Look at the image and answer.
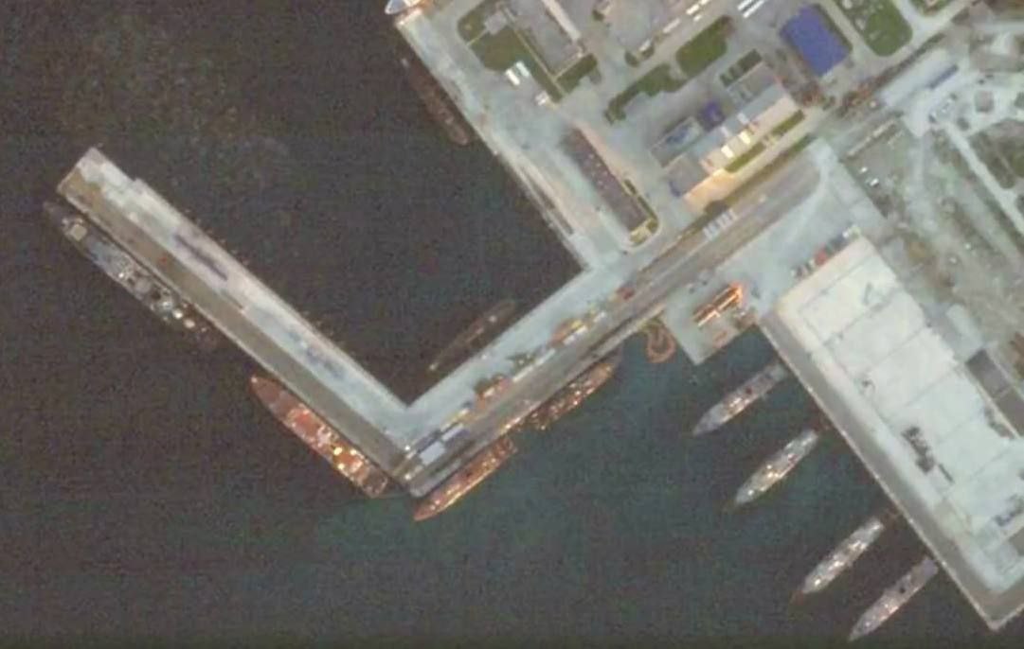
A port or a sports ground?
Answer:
port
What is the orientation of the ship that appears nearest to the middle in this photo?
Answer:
on a diagonal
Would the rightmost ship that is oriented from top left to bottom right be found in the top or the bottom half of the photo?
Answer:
top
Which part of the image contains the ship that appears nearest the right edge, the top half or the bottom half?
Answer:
bottom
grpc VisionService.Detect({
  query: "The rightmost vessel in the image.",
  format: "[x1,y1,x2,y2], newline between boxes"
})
[851,557,944,640]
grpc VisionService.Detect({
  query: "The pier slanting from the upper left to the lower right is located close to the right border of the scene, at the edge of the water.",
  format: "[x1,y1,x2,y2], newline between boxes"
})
[761,235,1024,628]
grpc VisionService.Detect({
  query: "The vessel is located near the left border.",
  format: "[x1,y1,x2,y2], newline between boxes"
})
[44,199,222,348]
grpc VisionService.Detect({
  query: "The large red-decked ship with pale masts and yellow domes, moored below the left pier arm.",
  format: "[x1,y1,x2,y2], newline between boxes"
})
[249,375,389,498]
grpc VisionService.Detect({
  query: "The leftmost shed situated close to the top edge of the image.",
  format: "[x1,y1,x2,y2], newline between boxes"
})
[484,8,509,34]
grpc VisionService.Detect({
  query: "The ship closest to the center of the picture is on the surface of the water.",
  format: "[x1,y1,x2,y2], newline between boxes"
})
[430,298,521,369]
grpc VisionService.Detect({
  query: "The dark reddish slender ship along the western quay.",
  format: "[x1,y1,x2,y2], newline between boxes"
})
[402,59,470,146]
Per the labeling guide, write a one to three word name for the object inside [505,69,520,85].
vehicle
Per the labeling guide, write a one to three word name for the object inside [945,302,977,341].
shed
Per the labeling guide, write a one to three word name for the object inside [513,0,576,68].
building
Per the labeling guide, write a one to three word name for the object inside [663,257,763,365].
pier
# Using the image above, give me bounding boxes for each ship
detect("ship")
[402,59,470,146]
[795,511,889,599]
[851,557,944,640]
[414,439,522,521]
[736,427,824,507]
[249,375,389,498]
[383,0,421,14]
[430,298,521,369]
[694,362,792,435]
[523,361,620,436]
